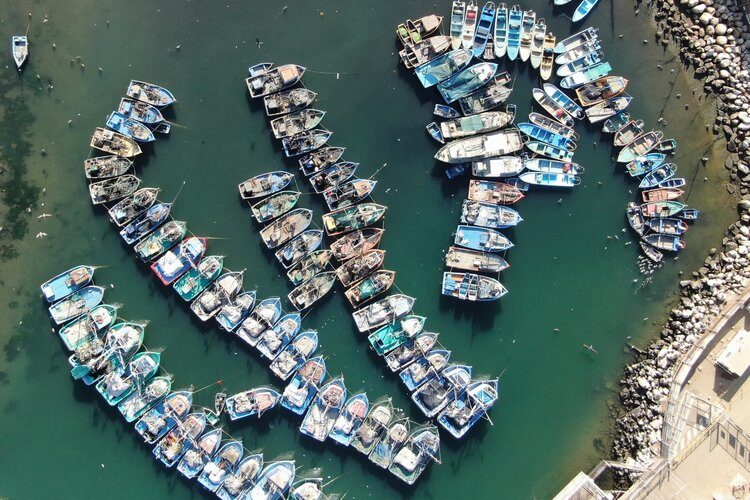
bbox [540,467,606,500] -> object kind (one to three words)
pier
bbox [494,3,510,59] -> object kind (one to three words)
boat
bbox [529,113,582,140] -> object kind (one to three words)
boat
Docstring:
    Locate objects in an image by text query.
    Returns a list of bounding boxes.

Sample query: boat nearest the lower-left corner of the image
[64,365,91,381]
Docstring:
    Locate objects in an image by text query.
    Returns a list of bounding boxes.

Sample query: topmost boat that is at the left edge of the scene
[11,36,29,69]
